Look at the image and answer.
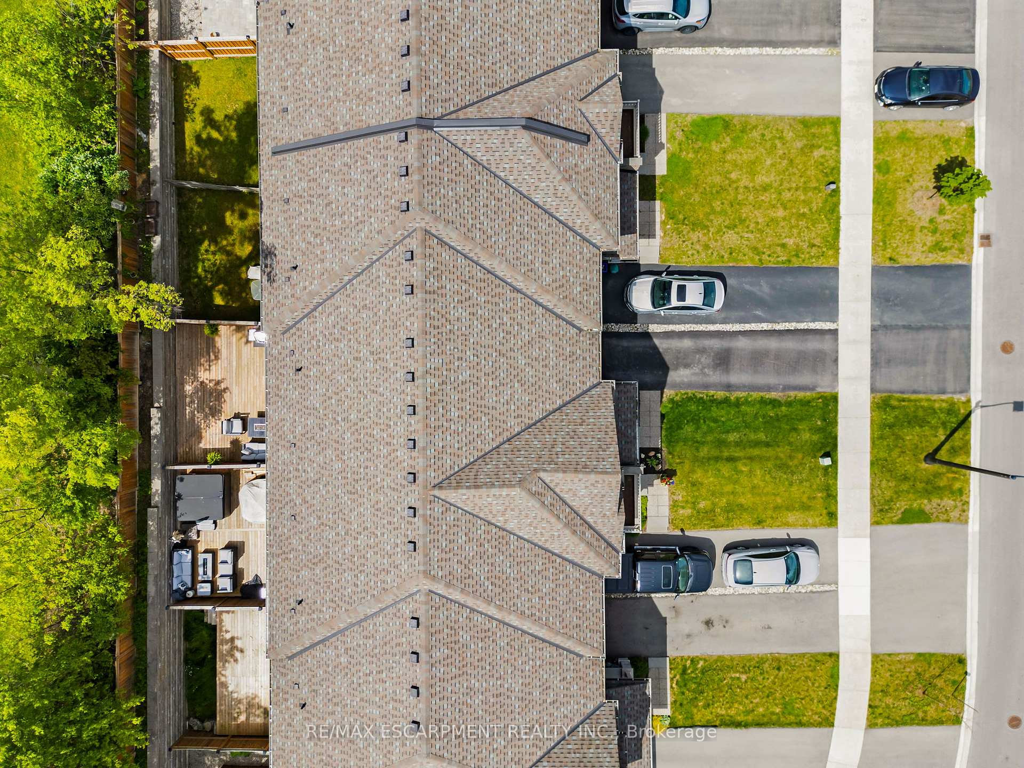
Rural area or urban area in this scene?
urban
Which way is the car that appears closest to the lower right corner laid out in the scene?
horizontally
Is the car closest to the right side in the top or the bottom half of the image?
top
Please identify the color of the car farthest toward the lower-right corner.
white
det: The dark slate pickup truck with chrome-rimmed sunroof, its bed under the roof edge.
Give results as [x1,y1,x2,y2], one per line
[608,541,715,595]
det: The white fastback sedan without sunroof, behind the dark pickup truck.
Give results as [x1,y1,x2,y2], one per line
[718,543,818,592]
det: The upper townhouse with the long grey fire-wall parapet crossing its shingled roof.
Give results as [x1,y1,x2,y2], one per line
[255,0,640,332]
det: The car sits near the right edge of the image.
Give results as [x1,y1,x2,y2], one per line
[872,65,982,116]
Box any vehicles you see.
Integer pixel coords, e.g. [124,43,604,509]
[624,270,726,317]
[872,65,982,116]
[608,541,715,595]
[611,0,708,32]
[718,543,818,592]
